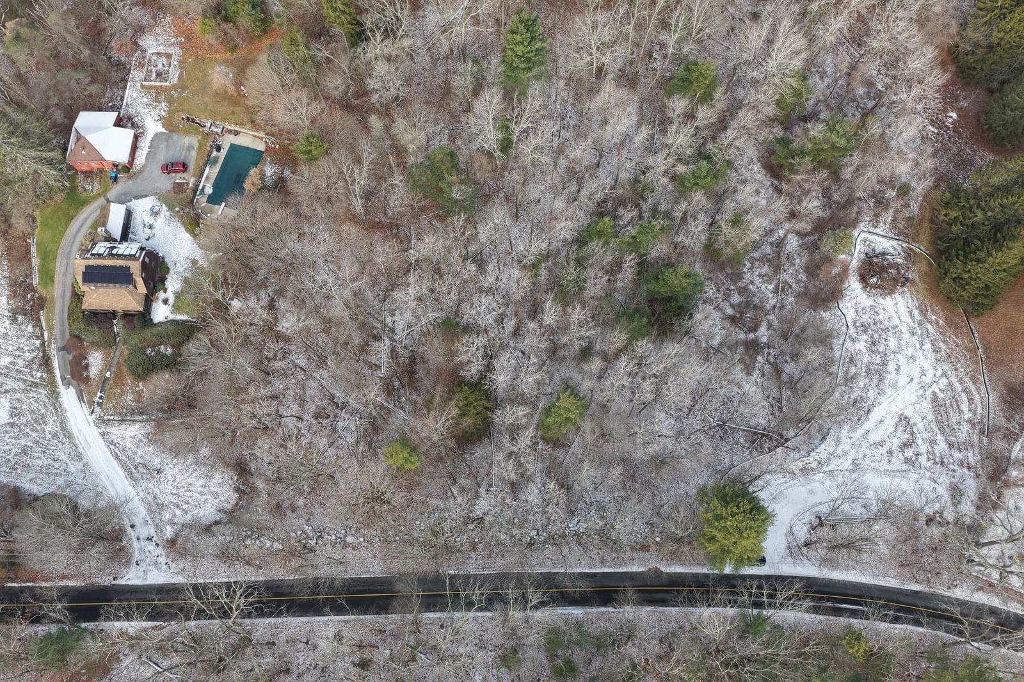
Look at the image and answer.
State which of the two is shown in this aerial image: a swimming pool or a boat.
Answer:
swimming pool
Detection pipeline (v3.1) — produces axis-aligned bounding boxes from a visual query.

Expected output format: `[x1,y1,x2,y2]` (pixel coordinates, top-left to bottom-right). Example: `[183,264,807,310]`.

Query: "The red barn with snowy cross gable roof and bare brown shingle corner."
[65,111,141,173]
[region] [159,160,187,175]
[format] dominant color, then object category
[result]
red car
